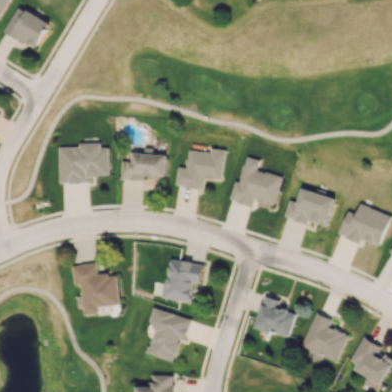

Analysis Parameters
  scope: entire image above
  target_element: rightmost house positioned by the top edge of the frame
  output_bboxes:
[6,11,49,48]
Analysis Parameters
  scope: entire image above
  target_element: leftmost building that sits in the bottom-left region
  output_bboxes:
[73,262,120,317]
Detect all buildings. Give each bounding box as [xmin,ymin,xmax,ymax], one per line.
[254,298,296,337]
[59,144,110,185]
[122,148,168,181]
[6,11,49,48]
[176,144,227,190]
[349,338,392,392]
[146,308,191,362]
[163,260,204,304]
[339,203,392,246]
[286,190,336,227]
[304,313,350,364]
[134,376,174,392]
[73,262,120,317]
[231,158,284,208]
